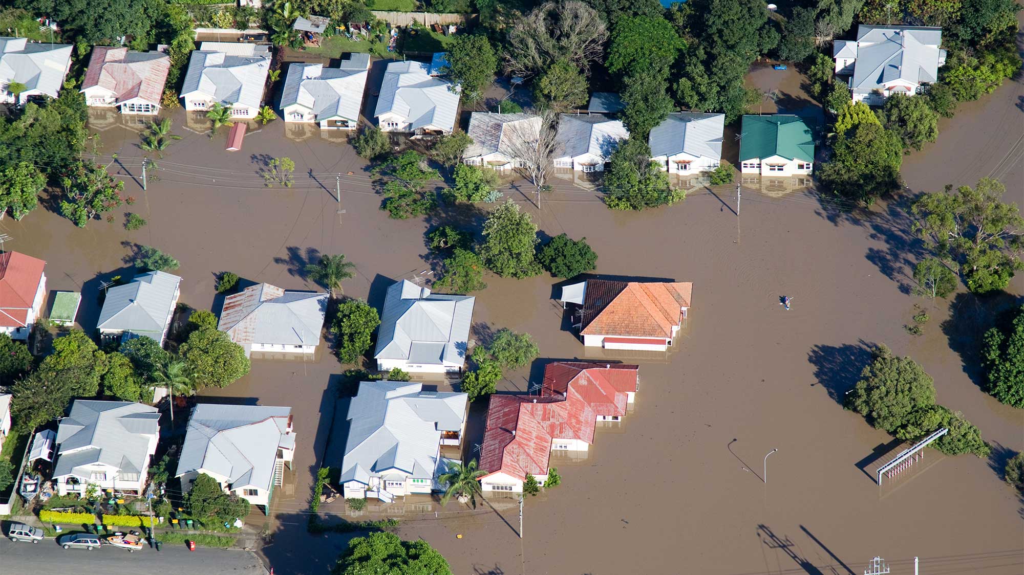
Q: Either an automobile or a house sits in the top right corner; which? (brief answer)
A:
house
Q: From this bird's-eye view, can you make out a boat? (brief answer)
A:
Yes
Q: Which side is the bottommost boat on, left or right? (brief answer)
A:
left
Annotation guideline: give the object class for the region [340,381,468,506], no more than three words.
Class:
house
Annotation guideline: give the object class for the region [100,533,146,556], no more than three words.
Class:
boat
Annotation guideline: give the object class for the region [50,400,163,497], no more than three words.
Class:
house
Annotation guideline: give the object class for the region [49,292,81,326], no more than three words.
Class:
shed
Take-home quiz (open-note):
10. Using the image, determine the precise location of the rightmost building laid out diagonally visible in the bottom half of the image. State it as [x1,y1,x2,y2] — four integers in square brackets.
[471,362,639,490]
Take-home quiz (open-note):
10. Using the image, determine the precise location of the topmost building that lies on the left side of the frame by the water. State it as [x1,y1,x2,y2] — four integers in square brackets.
[293,15,331,49]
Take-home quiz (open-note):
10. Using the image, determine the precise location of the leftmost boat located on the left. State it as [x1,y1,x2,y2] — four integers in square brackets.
[21,472,39,507]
